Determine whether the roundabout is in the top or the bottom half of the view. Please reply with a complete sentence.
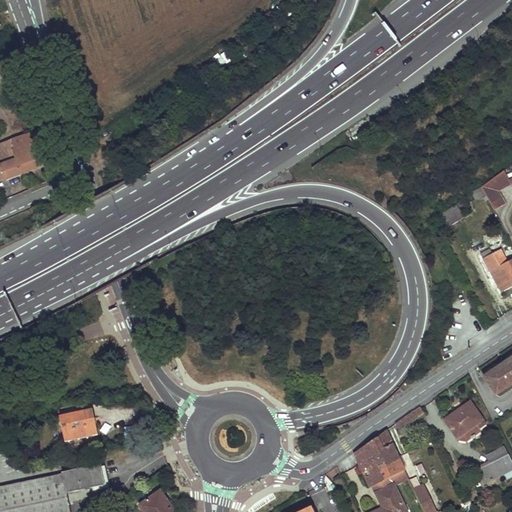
It is in the bottom half that the roundabout appears.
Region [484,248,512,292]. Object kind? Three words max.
house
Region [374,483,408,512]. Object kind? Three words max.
house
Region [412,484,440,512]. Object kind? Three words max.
shed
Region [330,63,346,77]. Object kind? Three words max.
vehicle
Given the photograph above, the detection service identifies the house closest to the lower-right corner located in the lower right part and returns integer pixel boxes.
[482,446,512,480]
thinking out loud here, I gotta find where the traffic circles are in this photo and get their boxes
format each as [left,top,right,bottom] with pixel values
[178,391,298,510]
